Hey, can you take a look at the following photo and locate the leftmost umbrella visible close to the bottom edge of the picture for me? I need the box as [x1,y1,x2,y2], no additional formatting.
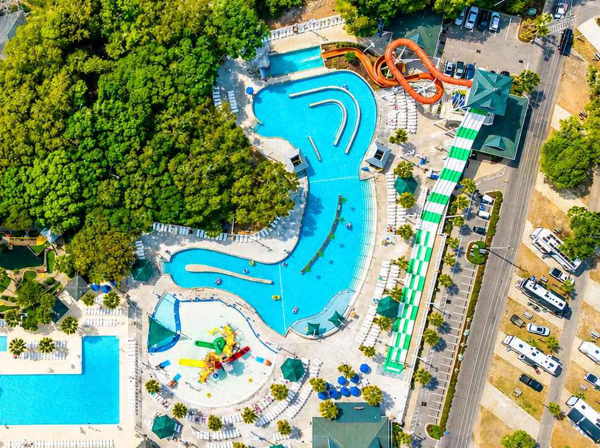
[152,414,176,440]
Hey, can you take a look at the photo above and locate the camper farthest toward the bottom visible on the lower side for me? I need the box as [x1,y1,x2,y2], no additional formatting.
[557,395,600,446]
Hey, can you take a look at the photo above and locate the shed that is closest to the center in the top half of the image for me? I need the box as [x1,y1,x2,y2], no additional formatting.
[280,147,309,174]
